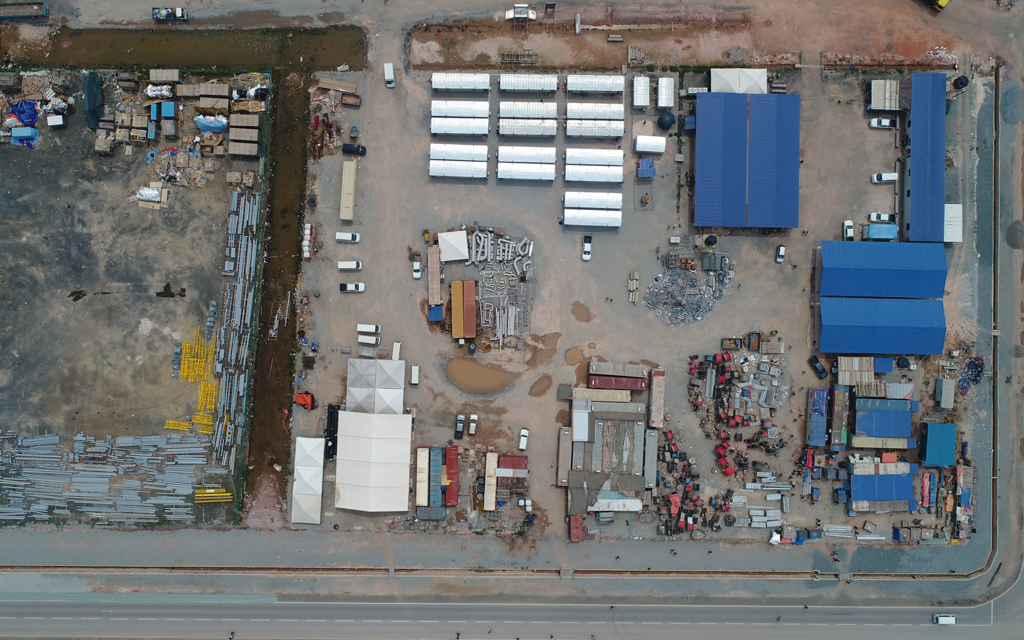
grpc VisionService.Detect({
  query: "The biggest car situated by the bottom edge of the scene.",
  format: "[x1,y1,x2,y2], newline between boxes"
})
[929,612,958,624]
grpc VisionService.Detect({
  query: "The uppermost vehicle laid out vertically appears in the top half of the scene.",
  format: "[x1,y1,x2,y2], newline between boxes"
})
[384,63,396,91]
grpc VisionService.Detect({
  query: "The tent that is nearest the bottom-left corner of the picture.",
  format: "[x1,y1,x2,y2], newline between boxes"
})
[293,436,327,524]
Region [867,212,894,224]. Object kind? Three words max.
vehicle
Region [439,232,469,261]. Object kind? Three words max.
tent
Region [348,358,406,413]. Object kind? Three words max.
tent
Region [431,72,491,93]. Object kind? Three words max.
building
